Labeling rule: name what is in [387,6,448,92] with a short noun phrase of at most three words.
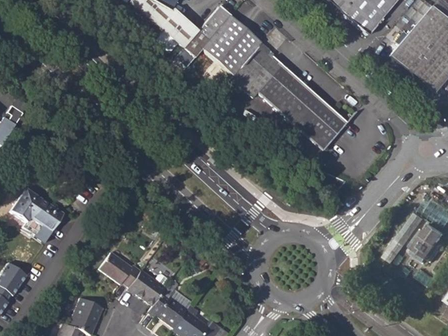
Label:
building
